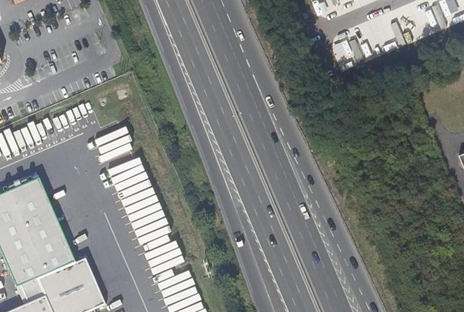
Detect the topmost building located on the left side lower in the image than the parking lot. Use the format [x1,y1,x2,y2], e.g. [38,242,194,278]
[0,172,76,284]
